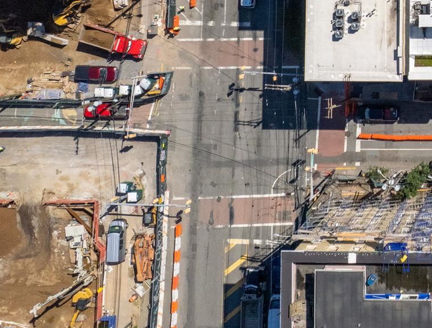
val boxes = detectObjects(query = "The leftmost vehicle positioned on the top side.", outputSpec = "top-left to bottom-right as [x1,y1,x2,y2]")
[0,33,27,47]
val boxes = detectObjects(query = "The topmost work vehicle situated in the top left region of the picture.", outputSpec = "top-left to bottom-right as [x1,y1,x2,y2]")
[55,0,79,31]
